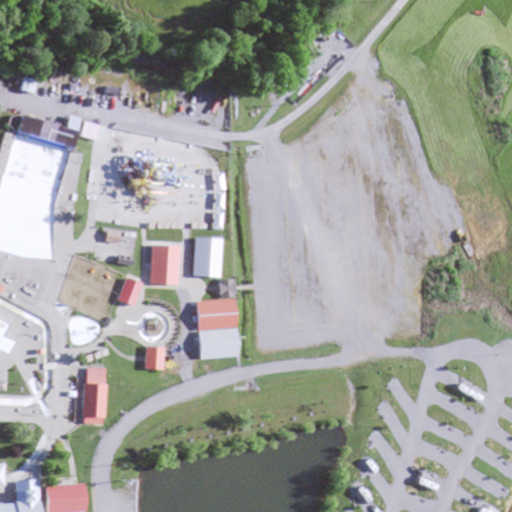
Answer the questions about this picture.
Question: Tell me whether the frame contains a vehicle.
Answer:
Yes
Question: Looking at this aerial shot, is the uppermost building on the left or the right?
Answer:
left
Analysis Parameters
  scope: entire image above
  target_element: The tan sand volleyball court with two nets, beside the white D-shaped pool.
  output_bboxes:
[58,254,124,320]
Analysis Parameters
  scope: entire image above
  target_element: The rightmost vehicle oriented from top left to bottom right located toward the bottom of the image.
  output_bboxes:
[459,382,486,402]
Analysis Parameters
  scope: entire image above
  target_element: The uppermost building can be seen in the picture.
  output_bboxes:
[8,116,78,146]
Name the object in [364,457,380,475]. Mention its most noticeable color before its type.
white vehicle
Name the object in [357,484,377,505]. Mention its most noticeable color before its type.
white vehicle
